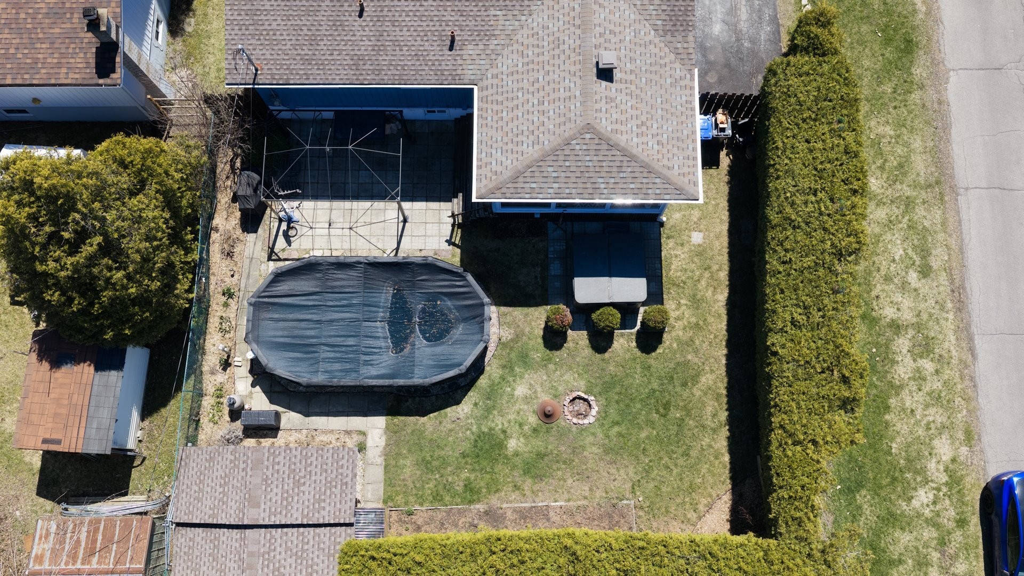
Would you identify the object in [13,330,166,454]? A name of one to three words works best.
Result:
shed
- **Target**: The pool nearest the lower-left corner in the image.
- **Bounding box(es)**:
[245,254,491,390]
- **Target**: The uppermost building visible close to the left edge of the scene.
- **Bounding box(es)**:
[0,0,170,121]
